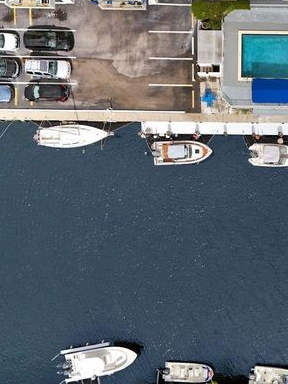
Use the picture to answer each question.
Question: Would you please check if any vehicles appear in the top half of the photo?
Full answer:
Yes, in the top half of the photo there is a vehicle.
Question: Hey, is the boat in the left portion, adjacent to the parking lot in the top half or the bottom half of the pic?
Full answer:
The top half of the photo is where the boat in the left portion, adjacent to the parking lot is.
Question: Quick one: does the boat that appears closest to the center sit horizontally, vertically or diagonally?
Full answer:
In this picture, the boat that appears closest to the center is oriented horizontally.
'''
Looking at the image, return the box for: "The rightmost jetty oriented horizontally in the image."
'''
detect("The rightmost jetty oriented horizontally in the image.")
[254,124,282,136]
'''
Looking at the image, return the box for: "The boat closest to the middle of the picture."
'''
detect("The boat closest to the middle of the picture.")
[150,139,212,166]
